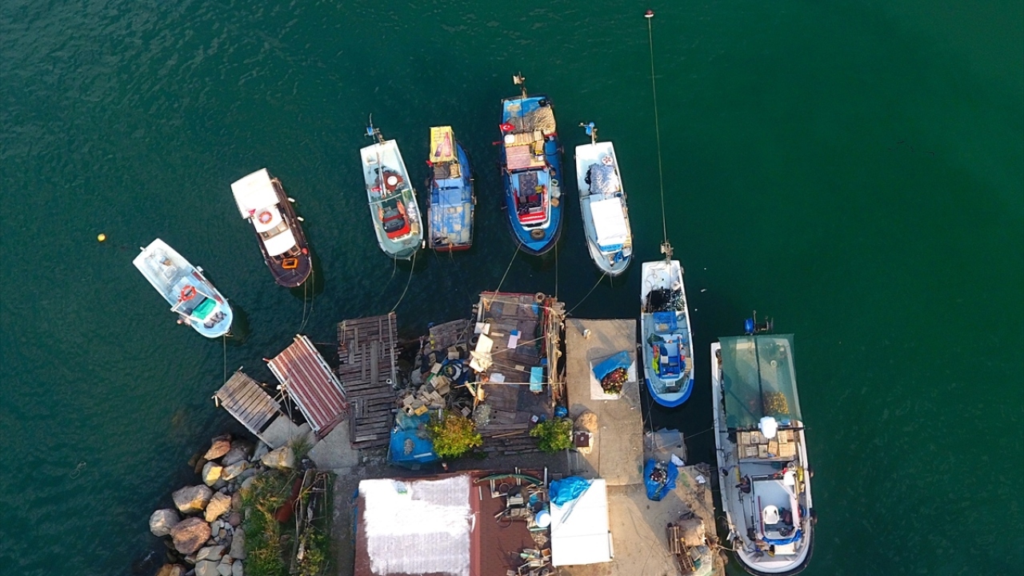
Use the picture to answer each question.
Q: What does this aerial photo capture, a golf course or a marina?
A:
marina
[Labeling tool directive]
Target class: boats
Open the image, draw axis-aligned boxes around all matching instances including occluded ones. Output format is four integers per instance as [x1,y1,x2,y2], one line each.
[492,72,564,258]
[231,168,311,289]
[132,238,235,340]
[426,136,475,251]
[709,310,816,576]
[639,242,694,410]
[359,114,424,261]
[575,122,634,276]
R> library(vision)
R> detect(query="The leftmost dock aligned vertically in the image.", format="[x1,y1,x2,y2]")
[336,313,399,448]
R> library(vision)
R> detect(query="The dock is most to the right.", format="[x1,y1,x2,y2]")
[565,319,644,485]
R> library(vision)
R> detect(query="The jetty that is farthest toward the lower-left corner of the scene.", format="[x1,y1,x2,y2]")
[213,366,283,449]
